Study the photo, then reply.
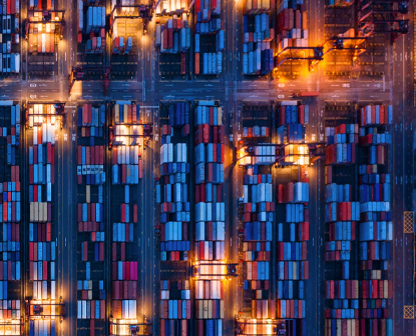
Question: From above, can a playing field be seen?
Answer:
No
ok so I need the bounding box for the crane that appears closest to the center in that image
[233,142,283,163]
